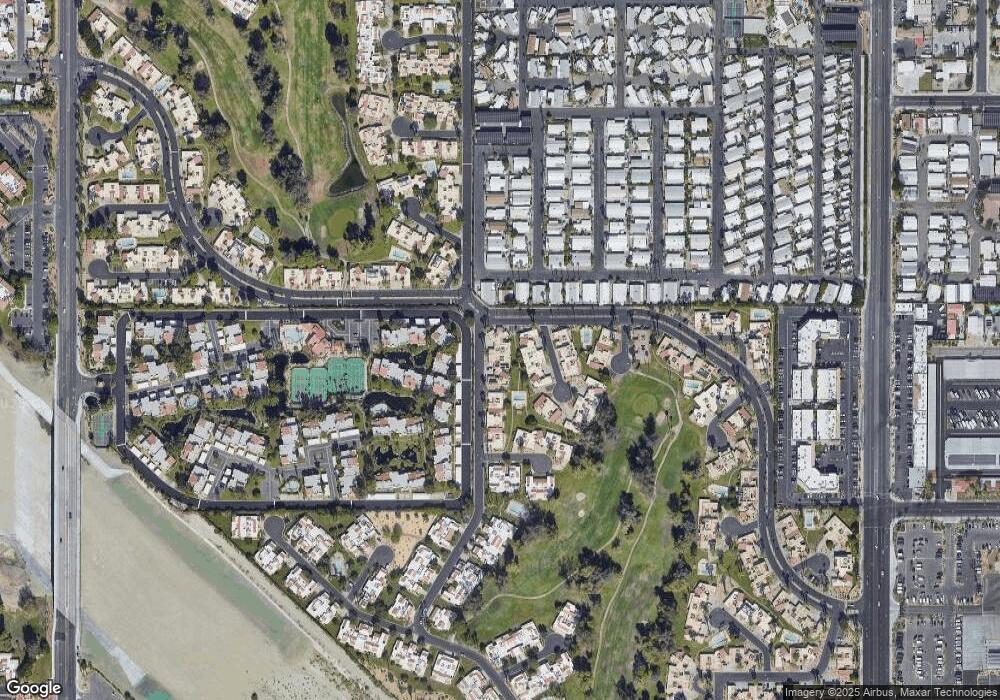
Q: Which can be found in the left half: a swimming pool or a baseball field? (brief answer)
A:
swimming pool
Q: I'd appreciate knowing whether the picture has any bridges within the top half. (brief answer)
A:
No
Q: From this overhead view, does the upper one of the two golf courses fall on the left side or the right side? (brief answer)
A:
left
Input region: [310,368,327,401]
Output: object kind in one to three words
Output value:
tennis court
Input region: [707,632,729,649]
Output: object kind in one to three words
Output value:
swimming pool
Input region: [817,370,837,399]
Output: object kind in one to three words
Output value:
building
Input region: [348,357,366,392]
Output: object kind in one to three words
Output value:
tennis court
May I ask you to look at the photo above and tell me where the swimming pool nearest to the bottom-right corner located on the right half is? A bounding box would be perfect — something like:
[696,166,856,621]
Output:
[781,633,801,645]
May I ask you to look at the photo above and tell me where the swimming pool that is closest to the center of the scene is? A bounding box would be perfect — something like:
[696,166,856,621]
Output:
[512,390,526,406]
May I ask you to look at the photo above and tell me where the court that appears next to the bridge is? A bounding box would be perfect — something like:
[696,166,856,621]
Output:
[94,410,109,444]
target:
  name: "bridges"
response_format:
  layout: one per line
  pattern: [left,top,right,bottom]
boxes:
[54,404,80,636]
